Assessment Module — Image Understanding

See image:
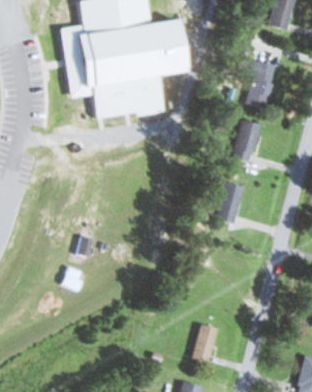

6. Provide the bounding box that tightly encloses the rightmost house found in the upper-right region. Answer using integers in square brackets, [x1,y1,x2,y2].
[270,0,297,30]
